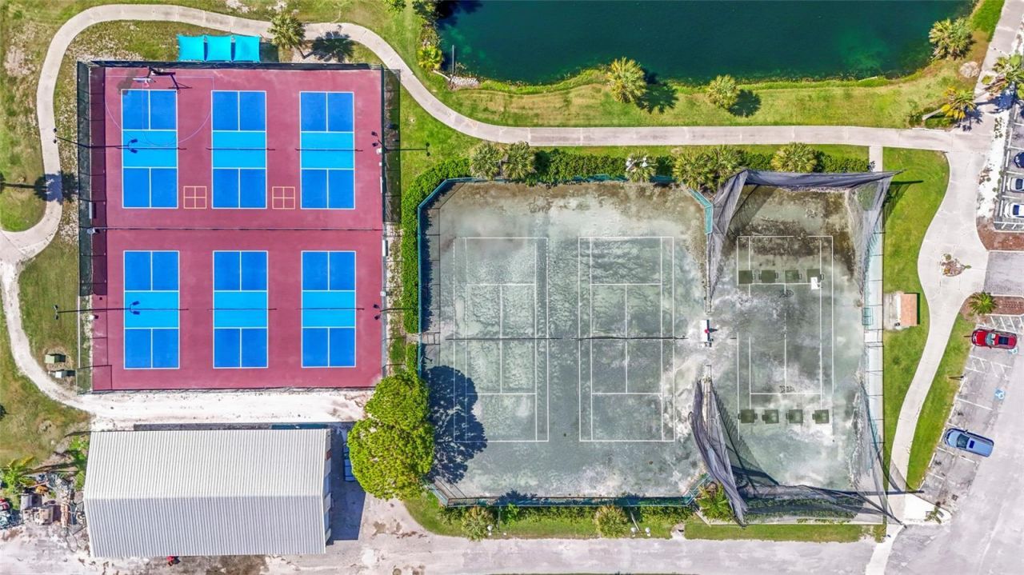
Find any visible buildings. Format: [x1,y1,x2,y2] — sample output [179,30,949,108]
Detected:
[83,427,333,557]
[878,292,914,326]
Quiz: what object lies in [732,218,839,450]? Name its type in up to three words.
tennis court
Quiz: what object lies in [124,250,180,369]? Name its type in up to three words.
sports court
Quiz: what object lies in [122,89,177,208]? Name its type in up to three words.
sports court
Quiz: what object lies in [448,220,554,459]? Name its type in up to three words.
tennis court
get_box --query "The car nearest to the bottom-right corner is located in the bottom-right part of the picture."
[943,429,996,457]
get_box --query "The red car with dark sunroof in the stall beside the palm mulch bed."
[969,328,1019,349]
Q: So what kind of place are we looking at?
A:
sports ground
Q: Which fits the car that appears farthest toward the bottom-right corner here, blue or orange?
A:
blue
